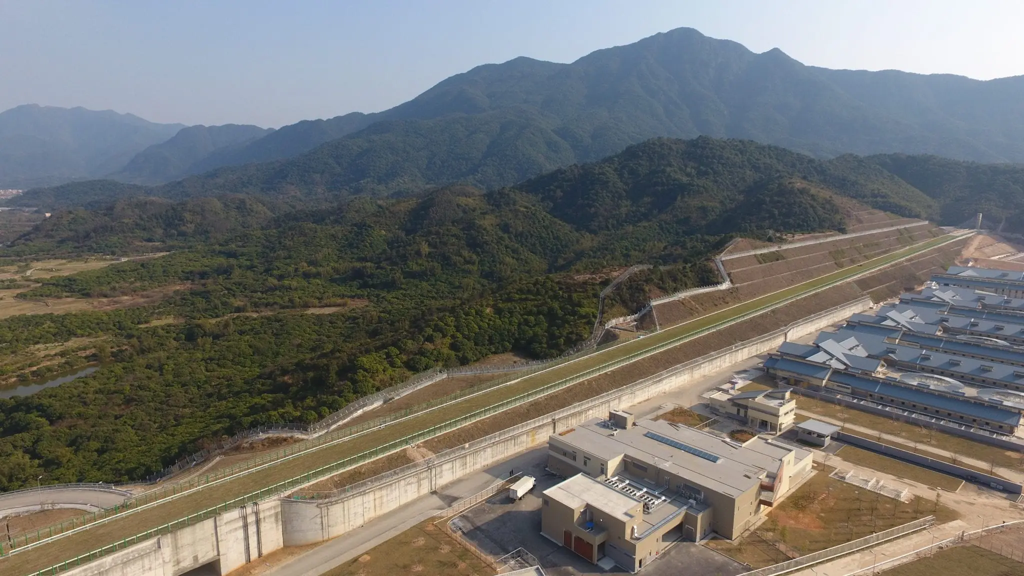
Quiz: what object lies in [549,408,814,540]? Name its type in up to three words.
building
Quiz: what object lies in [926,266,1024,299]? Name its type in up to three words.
building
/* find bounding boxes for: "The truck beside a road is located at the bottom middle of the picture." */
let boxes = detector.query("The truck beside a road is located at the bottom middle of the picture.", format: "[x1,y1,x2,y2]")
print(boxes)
[509,472,542,497]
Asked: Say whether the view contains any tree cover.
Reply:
Yes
